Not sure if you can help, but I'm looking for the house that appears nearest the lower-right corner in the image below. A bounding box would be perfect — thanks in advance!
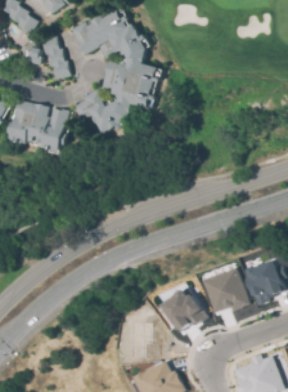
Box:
[232,356,285,392]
